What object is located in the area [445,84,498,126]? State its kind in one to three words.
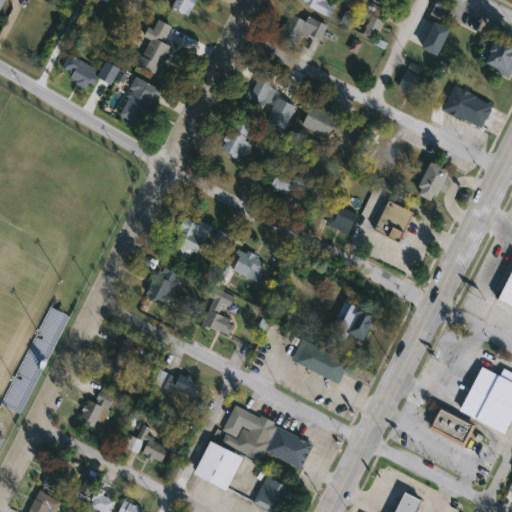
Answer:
house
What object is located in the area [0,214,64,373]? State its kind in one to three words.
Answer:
sports field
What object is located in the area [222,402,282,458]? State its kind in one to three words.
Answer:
building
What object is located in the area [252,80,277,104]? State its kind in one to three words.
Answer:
house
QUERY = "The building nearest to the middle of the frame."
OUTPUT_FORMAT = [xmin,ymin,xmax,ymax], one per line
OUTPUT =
[232,250,266,282]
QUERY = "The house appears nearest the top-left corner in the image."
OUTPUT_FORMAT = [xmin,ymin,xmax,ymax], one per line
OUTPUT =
[62,53,99,89]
